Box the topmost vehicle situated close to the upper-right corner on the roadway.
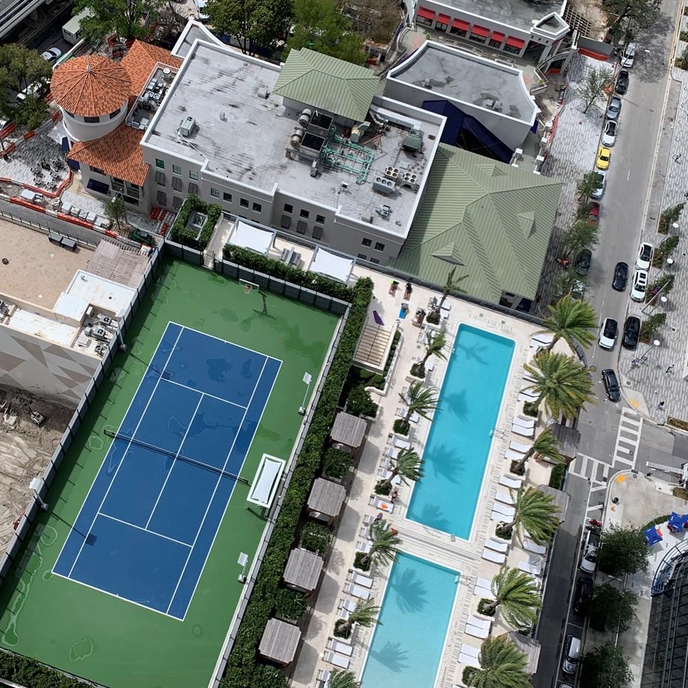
[620,41,639,67]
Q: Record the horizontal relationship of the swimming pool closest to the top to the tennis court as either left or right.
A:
on the right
